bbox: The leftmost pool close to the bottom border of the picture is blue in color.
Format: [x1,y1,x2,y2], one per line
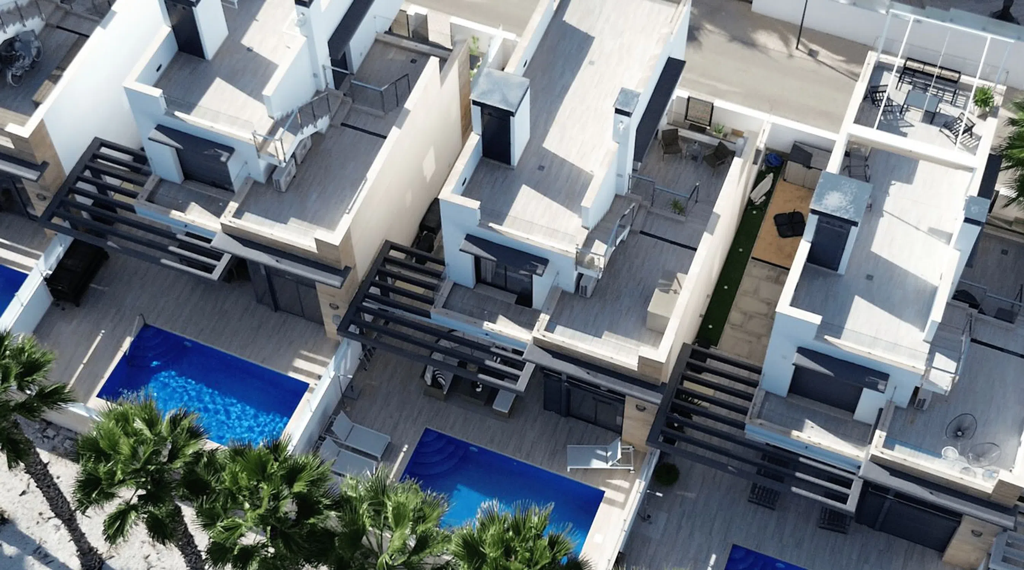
[387,426,607,570]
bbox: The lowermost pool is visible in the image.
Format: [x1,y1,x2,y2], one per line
[723,542,821,570]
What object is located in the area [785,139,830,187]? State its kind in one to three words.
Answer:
building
